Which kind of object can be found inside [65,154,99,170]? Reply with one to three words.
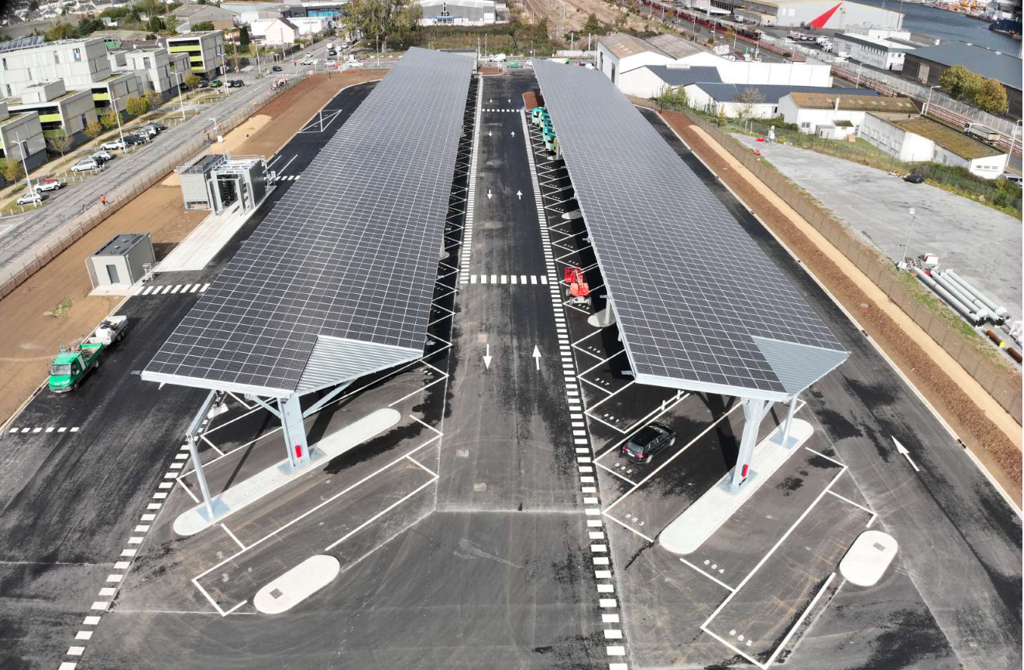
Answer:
car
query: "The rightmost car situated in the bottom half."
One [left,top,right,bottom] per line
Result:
[622,418,680,464]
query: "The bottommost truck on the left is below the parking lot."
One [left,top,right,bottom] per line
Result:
[48,333,111,383]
